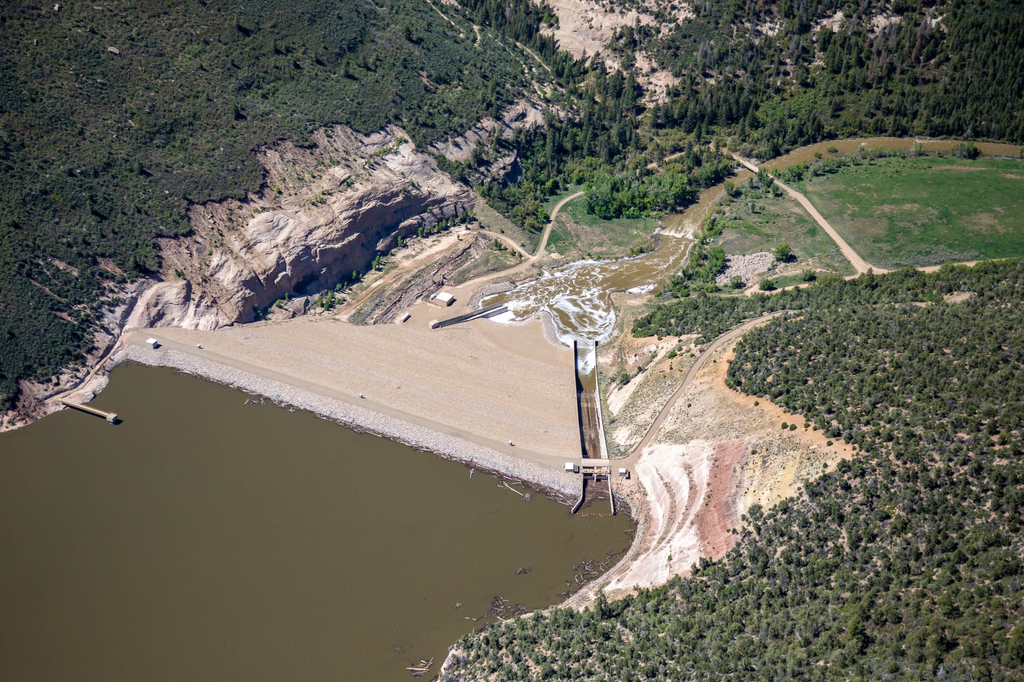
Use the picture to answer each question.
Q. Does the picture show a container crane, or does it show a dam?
dam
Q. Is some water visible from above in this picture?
Yes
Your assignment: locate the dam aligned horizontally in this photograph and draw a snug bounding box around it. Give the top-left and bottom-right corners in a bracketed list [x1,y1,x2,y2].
[118,317,582,508]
